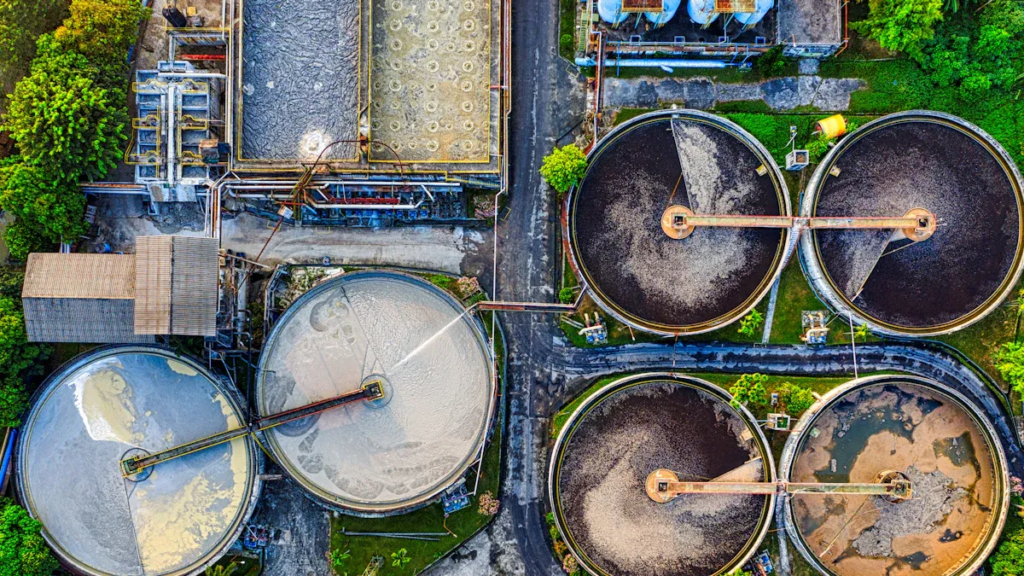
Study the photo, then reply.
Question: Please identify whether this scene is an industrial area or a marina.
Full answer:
This looks like an industrial area.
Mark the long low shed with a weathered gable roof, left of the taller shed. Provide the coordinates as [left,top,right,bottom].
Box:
[21,253,170,344]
